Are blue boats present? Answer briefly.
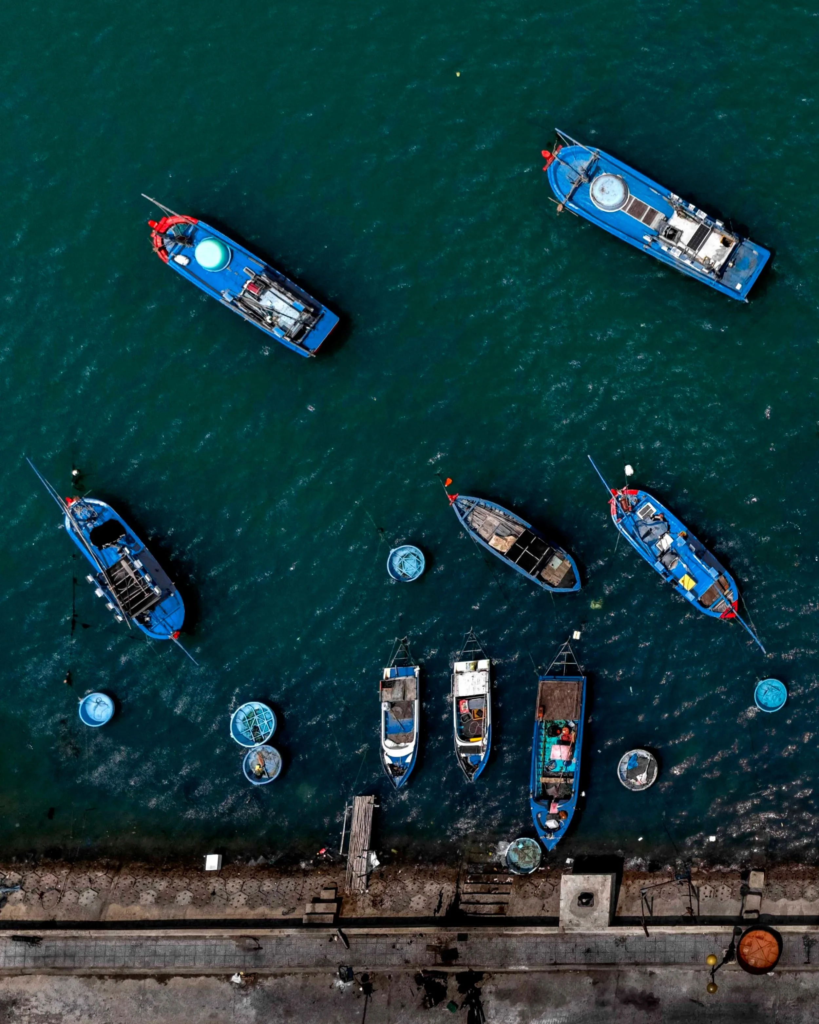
Yes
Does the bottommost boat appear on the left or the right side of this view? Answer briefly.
right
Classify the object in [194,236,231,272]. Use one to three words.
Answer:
boat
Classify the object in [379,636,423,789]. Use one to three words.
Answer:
boat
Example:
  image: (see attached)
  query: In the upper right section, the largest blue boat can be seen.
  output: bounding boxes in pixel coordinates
[540,128,770,303]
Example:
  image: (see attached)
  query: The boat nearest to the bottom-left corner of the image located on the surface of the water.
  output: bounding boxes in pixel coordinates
[78,692,115,727]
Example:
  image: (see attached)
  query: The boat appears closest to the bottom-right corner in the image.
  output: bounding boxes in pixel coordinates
[736,927,783,974]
